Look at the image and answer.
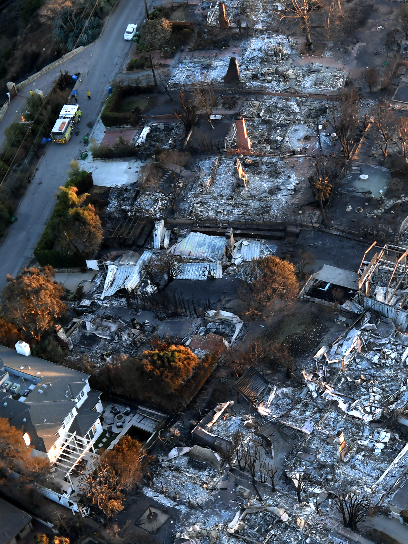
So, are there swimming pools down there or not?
Yes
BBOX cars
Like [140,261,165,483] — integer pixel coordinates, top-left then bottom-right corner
[69,298,101,313]
[124,23,138,40]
